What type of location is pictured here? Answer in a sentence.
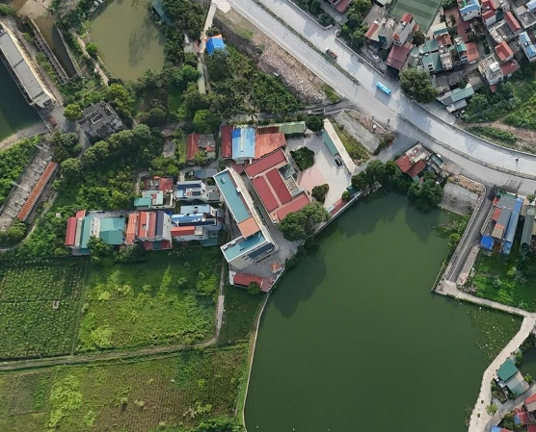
What you see here is a residential area.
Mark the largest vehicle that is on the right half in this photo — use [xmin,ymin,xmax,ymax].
[374,80,392,95]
